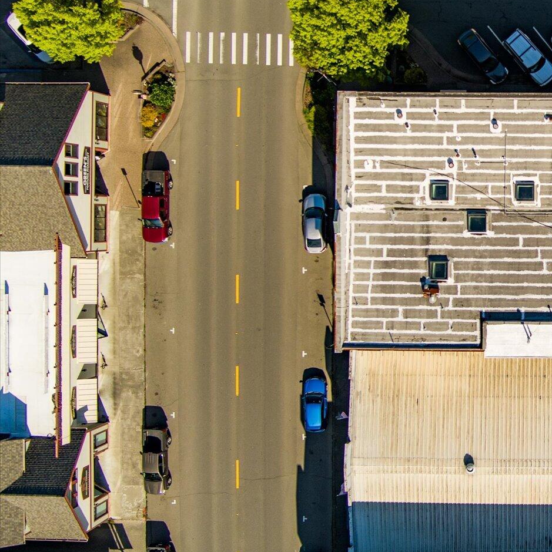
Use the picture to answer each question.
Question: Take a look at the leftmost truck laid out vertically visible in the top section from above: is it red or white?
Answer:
red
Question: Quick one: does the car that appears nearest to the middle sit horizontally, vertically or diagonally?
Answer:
vertically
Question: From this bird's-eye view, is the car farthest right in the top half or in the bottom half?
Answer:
top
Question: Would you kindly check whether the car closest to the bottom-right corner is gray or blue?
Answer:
blue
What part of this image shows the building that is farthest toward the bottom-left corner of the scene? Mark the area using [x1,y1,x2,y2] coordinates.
[0,423,109,551]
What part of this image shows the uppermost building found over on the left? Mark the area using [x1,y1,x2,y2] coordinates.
[0,83,110,254]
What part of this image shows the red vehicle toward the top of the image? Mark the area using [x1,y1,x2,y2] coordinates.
[139,169,173,243]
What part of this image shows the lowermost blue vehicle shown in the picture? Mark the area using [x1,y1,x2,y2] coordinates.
[300,375,328,434]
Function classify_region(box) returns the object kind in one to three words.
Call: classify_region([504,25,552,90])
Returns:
car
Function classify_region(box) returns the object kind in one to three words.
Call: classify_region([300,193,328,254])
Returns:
car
